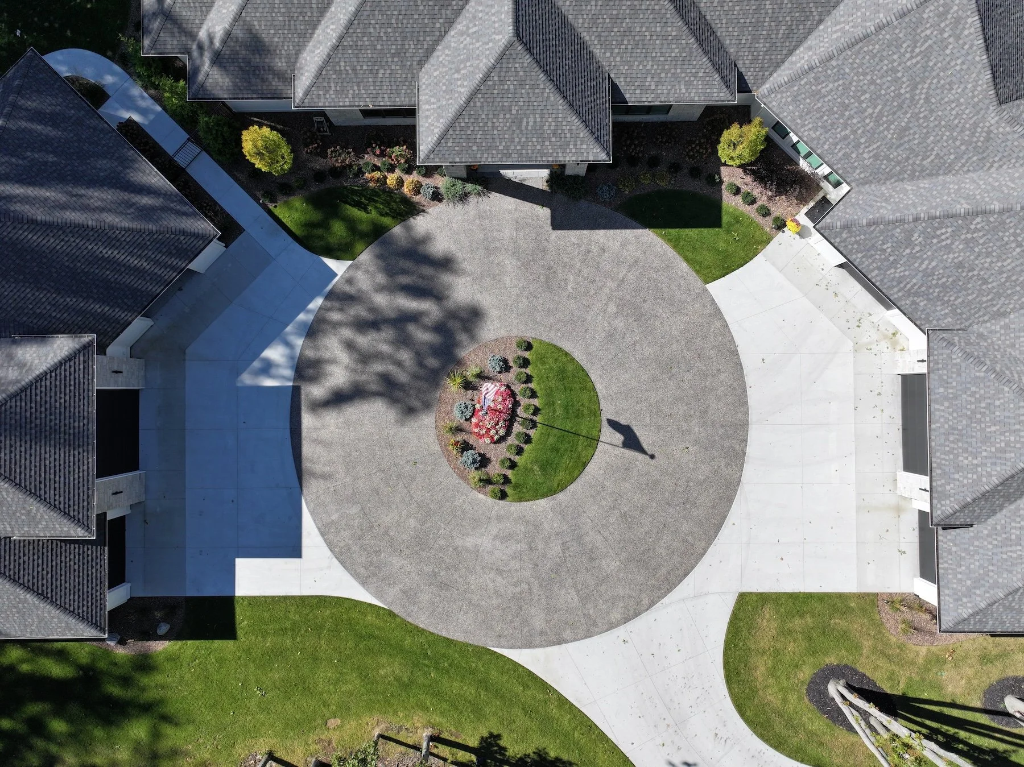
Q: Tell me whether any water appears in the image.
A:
No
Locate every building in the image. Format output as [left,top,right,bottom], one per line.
[141,0,1024,633]
[0,49,221,639]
